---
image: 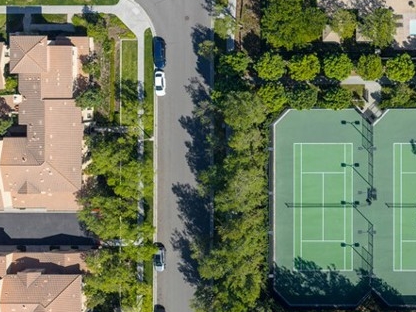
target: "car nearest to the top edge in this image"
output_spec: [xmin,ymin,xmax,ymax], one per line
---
[151,40,165,65]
